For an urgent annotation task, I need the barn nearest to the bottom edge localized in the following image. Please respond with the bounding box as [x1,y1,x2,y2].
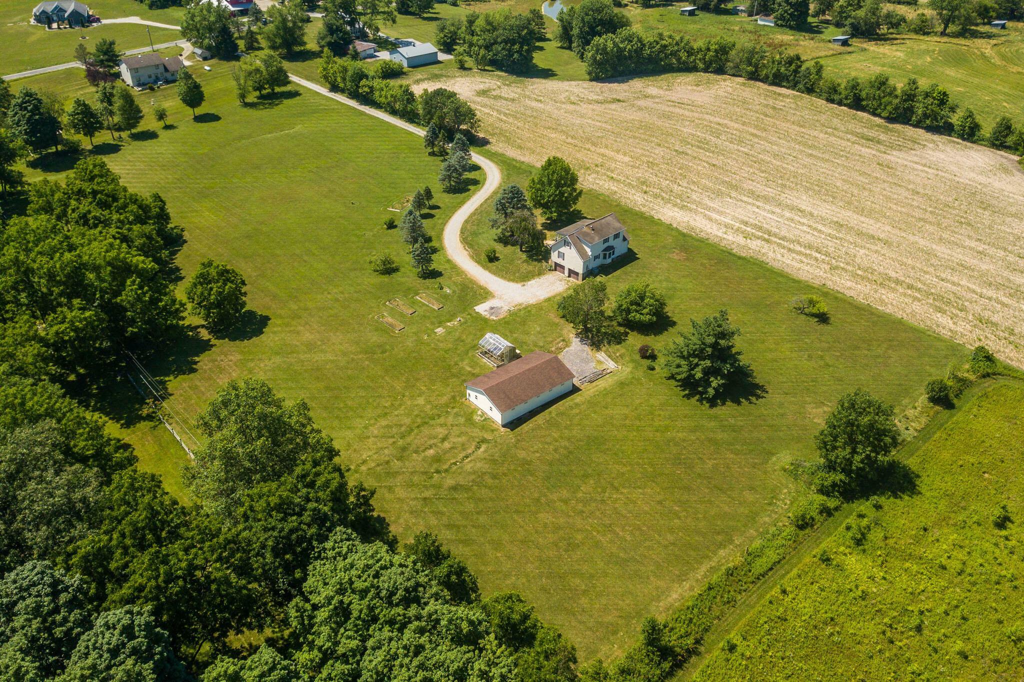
[464,351,577,427]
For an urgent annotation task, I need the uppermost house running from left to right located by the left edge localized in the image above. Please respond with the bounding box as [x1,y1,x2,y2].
[29,4,94,28]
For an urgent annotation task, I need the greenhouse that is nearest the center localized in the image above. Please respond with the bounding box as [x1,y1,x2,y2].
[477,333,519,367]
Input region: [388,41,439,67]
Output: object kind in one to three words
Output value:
barn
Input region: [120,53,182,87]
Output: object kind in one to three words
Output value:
house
